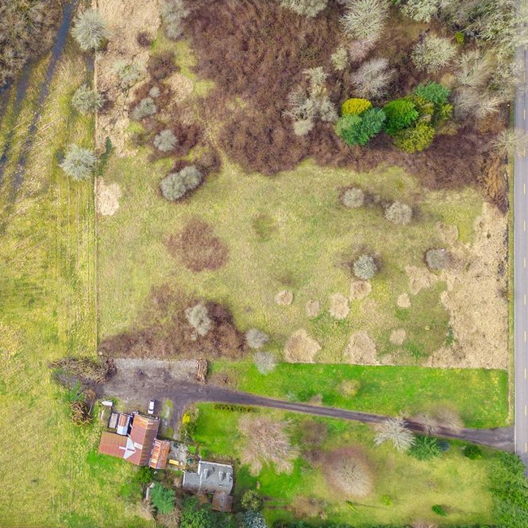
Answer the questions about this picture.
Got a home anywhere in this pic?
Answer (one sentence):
Yes, I can see a home in this picture.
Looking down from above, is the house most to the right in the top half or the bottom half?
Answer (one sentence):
You can find the house most to the right in the bottom half.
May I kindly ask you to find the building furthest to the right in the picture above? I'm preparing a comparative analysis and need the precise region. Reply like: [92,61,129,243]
[182,454,234,506]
